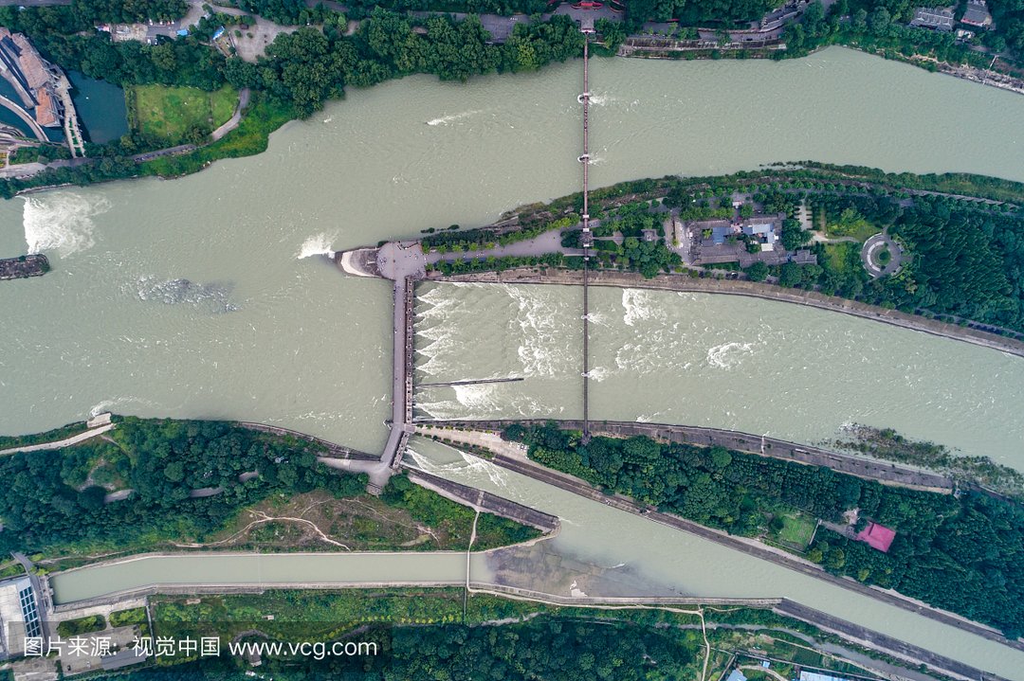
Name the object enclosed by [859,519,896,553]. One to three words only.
house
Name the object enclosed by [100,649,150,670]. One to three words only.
shed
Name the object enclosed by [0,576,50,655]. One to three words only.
building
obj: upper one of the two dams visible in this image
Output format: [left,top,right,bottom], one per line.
[392,271,418,426]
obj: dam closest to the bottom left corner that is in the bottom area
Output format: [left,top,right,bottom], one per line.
[380,424,415,469]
